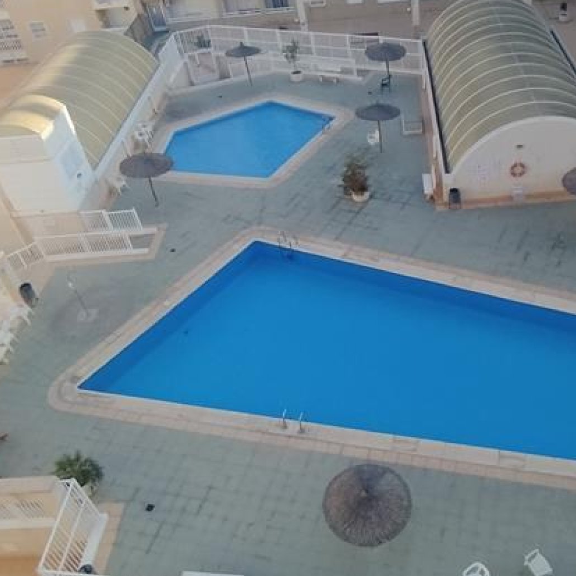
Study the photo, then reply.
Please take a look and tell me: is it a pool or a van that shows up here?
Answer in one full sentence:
This aerial view contains a pool.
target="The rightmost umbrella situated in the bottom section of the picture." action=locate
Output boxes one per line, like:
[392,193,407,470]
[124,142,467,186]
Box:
[322,468,413,558]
